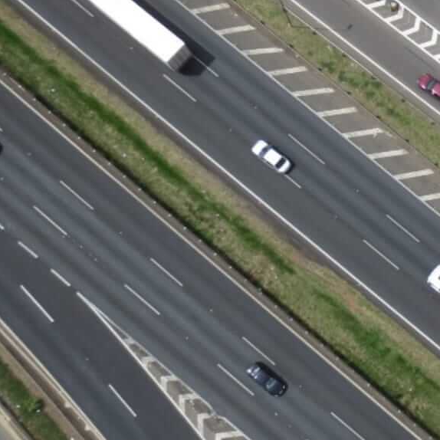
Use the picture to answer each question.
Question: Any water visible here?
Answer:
No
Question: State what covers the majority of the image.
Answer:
paved ground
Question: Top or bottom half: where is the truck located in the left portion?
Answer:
top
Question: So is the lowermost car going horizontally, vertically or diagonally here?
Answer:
diagonally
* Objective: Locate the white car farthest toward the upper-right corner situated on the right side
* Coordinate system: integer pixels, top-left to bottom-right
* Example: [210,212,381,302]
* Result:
[253,139,291,174]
